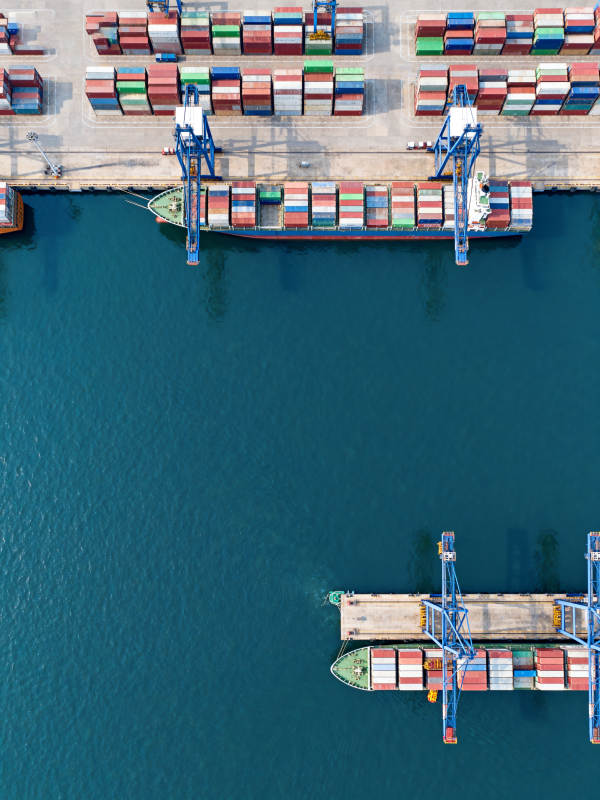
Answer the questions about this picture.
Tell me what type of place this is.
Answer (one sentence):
What you see here is a port.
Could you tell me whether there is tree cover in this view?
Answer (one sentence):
No, no tree cover is visible.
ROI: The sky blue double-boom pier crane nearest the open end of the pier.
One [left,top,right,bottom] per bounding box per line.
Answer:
[416,530,476,746]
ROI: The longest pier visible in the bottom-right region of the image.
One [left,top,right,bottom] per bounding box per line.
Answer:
[341,591,598,641]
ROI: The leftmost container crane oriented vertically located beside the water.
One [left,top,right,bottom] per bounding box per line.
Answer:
[173,82,220,267]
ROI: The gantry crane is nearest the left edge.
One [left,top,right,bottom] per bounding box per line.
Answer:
[147,0,191,23]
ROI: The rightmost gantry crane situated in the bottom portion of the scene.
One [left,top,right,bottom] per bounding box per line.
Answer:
[548,530,600,746]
